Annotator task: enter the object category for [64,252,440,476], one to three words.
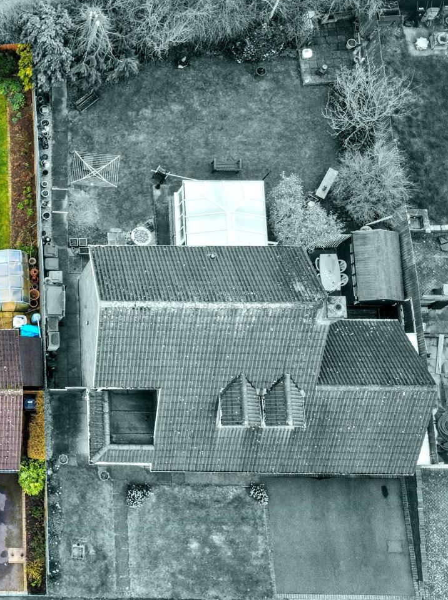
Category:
house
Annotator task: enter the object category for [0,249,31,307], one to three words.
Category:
greenhouse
